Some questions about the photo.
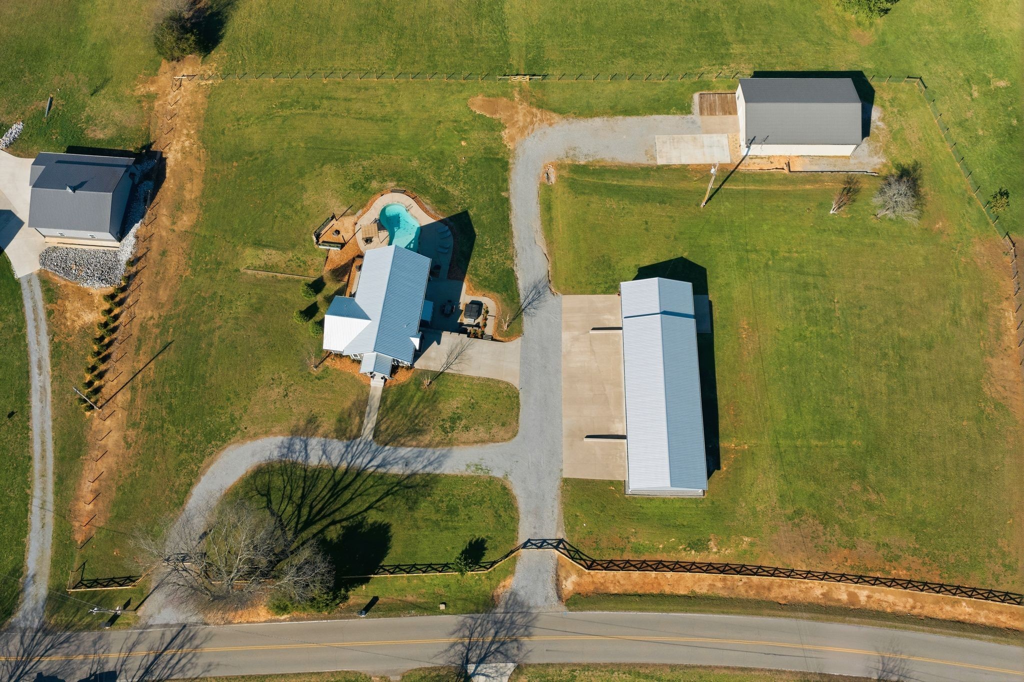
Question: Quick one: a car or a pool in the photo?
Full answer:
This aerial view contains a pool.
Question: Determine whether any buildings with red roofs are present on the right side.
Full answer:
No, the scene shows no building with a red roof on the right side.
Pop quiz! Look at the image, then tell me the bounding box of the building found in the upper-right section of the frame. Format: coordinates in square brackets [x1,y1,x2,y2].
[736,77,862,156]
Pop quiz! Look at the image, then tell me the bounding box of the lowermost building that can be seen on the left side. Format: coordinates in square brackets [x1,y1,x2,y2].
[323,244,434,384]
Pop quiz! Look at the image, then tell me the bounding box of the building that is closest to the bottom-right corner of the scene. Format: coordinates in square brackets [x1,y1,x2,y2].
[621,277,716,497]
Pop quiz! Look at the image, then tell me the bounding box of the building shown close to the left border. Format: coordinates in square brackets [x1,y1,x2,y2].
[28,152,138,245]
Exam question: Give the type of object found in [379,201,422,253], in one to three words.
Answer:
swimming pool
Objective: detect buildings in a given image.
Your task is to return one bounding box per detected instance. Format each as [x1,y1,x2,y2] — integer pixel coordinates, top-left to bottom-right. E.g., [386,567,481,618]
[28,152,138,245]
[621,277,716,497]
[736,77,862,156]
[323,244,434,384]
